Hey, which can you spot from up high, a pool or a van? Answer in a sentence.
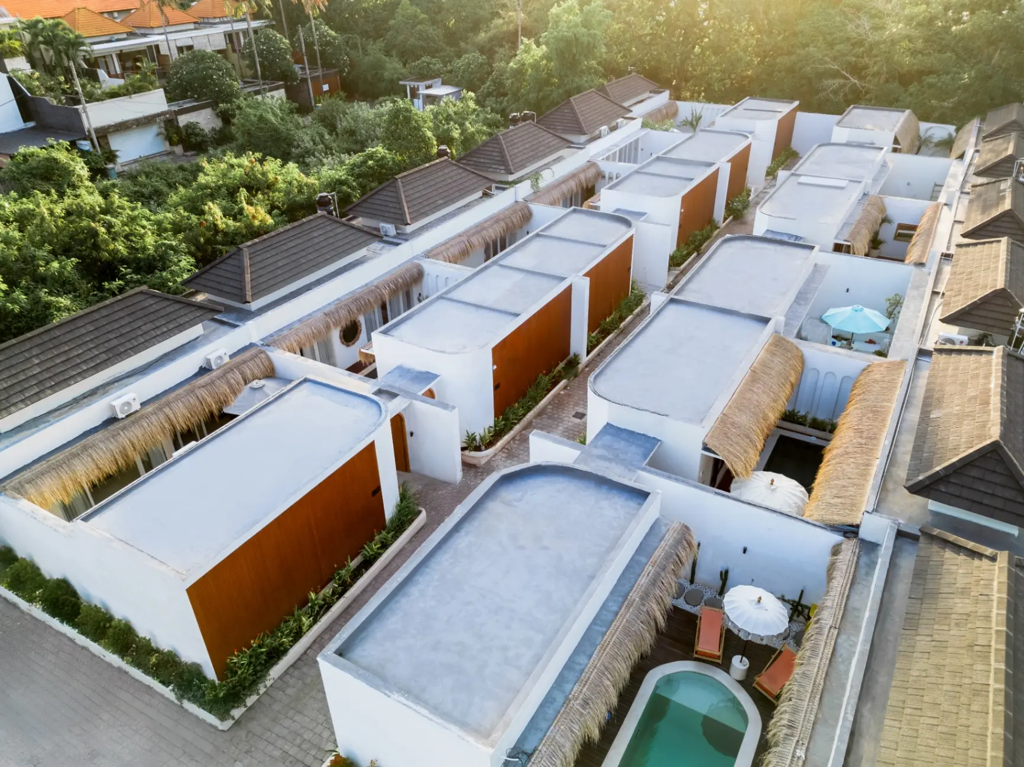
This aerial view contains a pool.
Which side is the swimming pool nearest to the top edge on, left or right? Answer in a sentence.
The swimming pool nearest to the top edge is on the right side of the image.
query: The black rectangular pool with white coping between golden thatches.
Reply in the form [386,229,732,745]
[752,427,826,490]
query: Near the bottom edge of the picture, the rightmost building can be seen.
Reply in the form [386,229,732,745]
[867,519,1024,767]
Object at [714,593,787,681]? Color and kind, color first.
white umbrella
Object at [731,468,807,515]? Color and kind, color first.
white umbrella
